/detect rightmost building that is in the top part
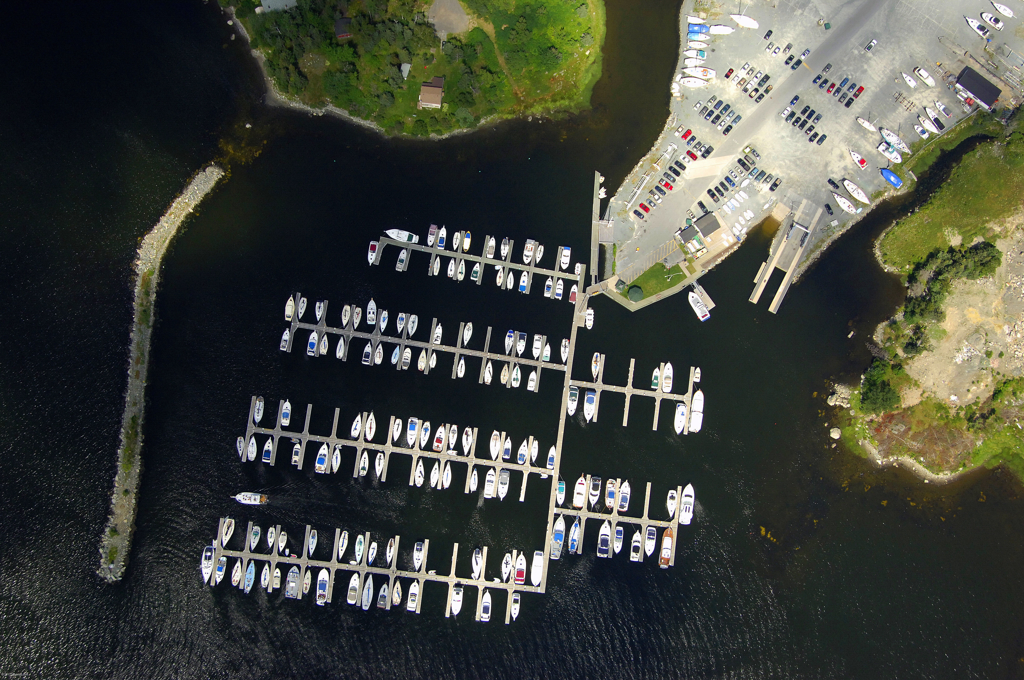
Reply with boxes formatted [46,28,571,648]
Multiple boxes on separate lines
[952,66,1002,112]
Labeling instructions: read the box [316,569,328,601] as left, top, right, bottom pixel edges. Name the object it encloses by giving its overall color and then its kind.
white boat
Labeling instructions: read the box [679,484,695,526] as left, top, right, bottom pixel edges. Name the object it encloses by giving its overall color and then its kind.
white boat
